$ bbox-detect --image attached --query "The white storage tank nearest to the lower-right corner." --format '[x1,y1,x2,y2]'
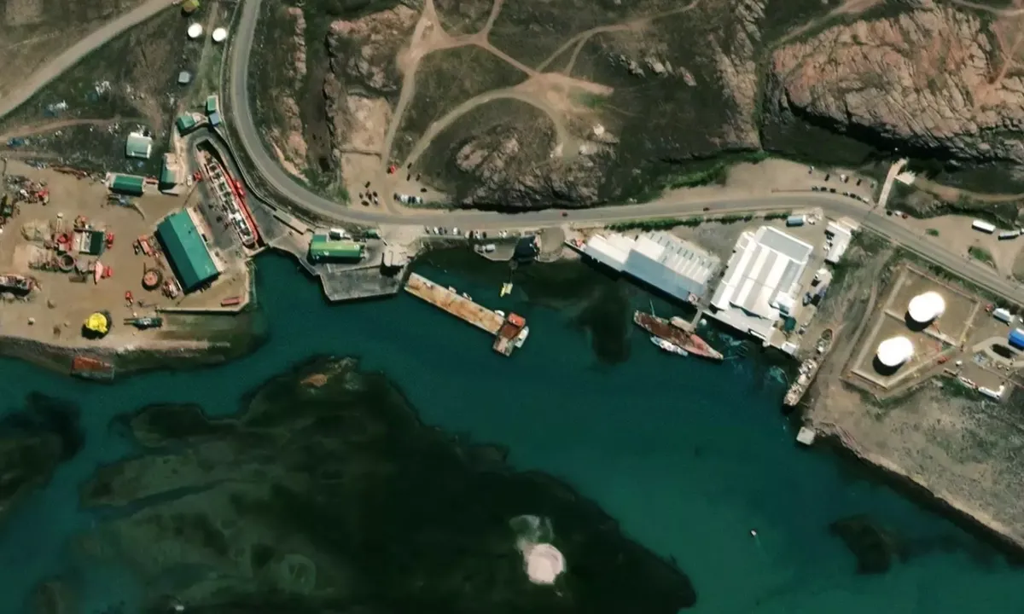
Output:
[878,336,914,368]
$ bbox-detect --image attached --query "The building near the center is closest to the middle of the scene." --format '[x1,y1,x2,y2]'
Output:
[514,235,538,256]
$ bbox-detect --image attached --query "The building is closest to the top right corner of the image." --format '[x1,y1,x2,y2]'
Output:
[824,221,855,263]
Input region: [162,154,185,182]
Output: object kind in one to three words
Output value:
building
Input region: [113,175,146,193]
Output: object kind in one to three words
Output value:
building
